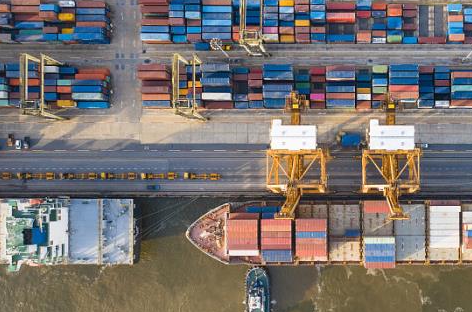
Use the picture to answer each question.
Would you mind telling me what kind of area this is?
port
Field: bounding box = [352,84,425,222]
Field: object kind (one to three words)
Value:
container crane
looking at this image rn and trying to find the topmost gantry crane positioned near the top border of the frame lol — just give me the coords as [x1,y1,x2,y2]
[241,0,273,57]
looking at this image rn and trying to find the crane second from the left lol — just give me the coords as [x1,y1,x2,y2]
[172,52,209,122]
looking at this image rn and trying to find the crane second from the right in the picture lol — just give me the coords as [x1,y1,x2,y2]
[265,84,335,222]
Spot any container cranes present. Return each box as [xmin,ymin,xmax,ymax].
[14,53,66,121]
[265,84,335,222]
[352,84,425,222]
[241,0,273,57]
[172,52,209,122]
